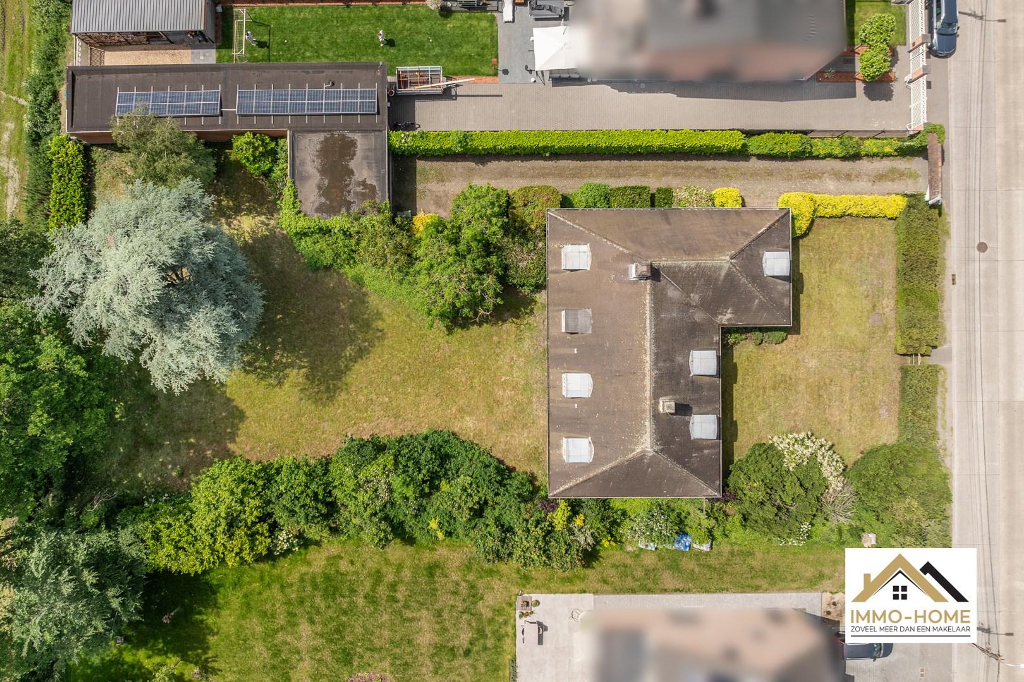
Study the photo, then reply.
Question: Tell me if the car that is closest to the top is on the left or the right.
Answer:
right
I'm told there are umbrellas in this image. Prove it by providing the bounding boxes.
[533,6,583,71]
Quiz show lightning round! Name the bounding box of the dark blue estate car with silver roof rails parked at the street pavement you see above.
[927,0,962,60]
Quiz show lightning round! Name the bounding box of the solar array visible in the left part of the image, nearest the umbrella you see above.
[236,83,379,124]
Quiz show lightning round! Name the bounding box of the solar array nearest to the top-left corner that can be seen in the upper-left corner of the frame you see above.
[116,84,224,125]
